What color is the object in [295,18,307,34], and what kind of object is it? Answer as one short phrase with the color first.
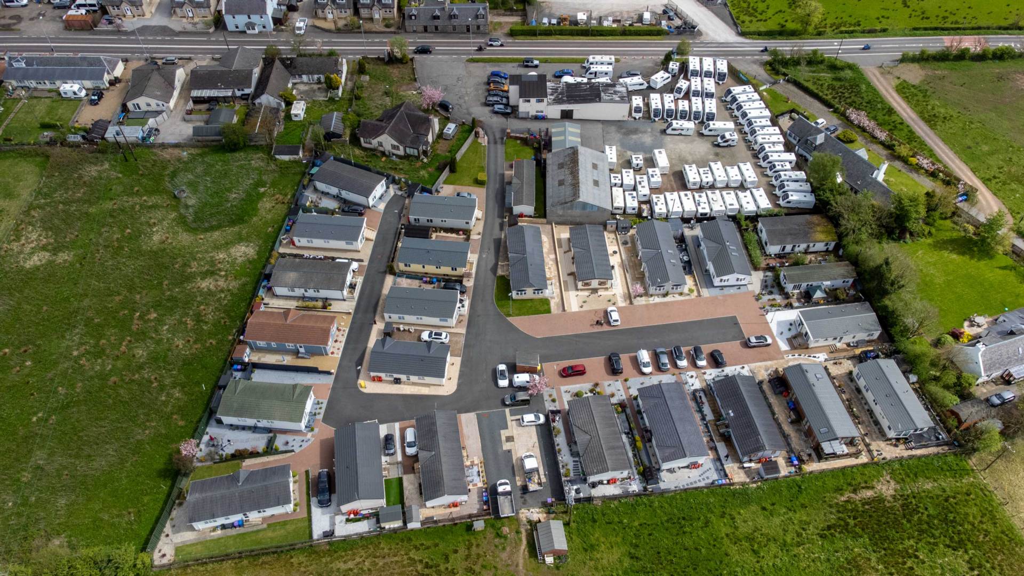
white vehicle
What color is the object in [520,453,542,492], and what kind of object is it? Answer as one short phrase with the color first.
white truck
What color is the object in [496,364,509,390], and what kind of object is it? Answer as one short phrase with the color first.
white vehicle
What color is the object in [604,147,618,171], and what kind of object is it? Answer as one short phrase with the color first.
white camper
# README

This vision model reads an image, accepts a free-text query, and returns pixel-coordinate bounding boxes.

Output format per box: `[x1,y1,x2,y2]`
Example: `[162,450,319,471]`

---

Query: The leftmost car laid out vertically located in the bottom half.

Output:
[315,469,331,507]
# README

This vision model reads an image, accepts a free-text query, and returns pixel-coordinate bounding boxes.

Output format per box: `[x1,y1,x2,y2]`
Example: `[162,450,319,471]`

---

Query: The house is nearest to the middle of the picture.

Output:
[506,222,547,300]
